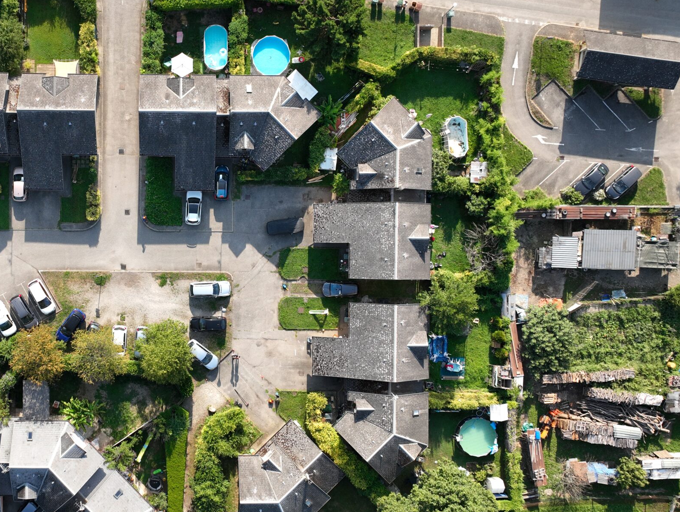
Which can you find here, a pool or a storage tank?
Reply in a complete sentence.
The one in the frame is a pool.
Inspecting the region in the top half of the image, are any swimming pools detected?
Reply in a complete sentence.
Yes, there is a swimming pool in the top half of the image.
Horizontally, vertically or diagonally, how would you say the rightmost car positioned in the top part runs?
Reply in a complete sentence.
The rightmost car positioned in the top part runs diagonally in the image.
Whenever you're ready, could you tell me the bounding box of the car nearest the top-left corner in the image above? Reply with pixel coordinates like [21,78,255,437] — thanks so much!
[9,168,29,201]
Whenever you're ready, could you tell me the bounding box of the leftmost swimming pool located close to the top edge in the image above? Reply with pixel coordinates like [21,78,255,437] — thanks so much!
[203,25,228,74]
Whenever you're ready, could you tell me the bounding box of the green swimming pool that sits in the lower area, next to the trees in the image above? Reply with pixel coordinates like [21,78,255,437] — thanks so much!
[448,414,497,456]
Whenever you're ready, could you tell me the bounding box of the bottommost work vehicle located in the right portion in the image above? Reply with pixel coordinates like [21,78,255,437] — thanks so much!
[530,403,560,437]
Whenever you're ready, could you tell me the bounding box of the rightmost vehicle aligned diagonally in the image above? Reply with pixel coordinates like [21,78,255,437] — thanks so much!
[603,162,644,202]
